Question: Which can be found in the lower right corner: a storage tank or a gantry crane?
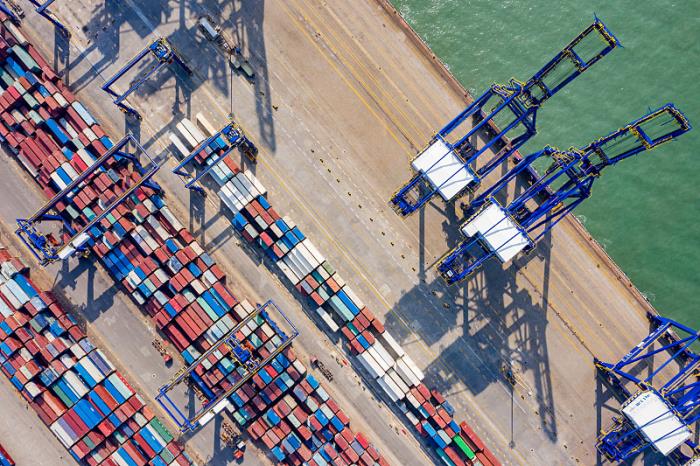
gantry crane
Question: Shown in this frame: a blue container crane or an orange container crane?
blue container crane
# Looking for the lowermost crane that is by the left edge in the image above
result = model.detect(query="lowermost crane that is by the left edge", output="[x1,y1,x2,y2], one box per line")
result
[14,133,164,267]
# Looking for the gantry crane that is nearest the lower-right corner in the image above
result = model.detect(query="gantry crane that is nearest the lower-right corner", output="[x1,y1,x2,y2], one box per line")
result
[590,308,700,466]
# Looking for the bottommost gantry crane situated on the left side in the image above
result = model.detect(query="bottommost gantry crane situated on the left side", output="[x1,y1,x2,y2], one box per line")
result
[154,299,300,434]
